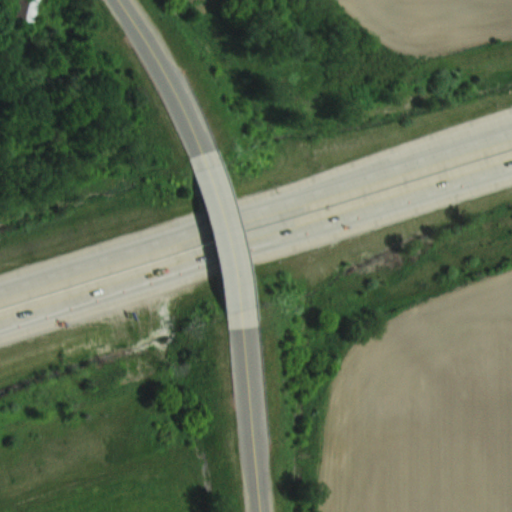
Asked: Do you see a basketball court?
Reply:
No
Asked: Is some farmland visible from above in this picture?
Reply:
Yes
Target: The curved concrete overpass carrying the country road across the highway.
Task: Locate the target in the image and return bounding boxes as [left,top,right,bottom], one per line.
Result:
[190,149,260,330]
